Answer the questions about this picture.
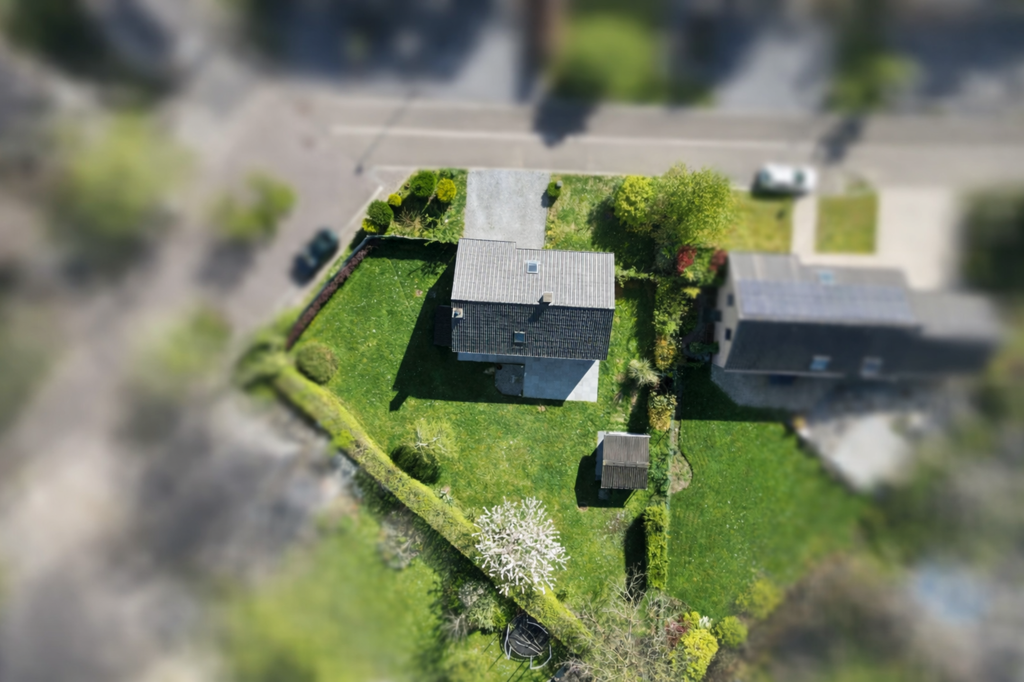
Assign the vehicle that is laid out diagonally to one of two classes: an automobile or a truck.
automobile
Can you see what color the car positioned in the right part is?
white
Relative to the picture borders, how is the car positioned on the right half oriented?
from side to side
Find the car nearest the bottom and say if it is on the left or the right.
left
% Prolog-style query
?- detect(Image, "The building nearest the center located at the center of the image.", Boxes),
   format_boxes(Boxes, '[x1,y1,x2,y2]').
[441,237,615,361]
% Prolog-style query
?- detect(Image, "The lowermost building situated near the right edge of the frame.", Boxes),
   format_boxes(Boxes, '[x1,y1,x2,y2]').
[710,252,993,387]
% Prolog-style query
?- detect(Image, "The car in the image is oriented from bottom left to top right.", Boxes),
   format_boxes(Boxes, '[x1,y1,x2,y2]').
[290,227,343,283]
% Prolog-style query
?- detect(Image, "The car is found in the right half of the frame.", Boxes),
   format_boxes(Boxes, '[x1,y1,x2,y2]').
[758,163,818,193]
